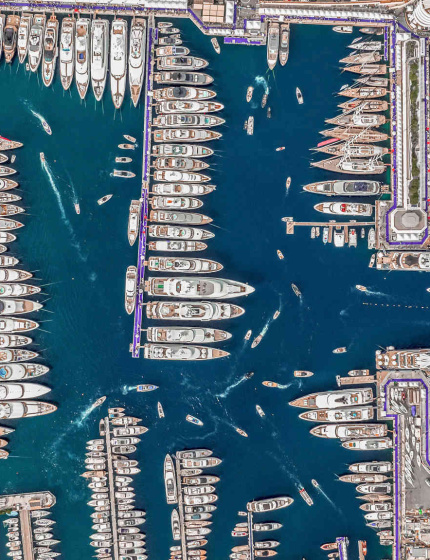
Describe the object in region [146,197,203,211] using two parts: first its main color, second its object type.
white boat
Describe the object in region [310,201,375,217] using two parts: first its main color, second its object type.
white boat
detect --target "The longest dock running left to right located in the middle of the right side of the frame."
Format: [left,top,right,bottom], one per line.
[286,221,375,234]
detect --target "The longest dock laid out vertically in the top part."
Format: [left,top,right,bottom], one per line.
[132,18,158,358]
